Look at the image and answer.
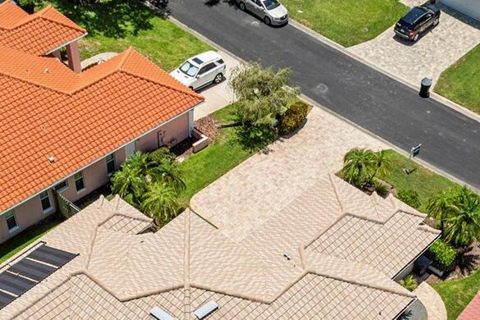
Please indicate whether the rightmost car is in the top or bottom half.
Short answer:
top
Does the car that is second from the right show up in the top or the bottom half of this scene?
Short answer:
top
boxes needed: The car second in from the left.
[236,0,293,26]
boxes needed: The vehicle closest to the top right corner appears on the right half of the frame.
[392,1,446,41]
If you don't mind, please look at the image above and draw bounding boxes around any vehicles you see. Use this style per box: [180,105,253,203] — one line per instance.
[392,1,446,41]
[165,44,230,89]
[236,0,293,26]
